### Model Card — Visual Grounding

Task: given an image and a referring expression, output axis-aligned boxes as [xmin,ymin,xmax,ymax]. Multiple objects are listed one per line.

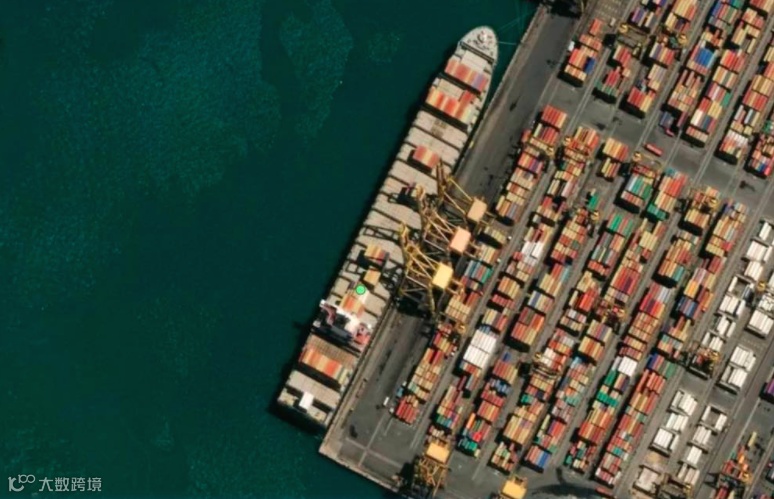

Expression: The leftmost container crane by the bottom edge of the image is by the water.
[407,435,454,499]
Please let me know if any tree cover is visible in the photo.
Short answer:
No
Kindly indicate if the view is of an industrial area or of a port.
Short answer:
port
